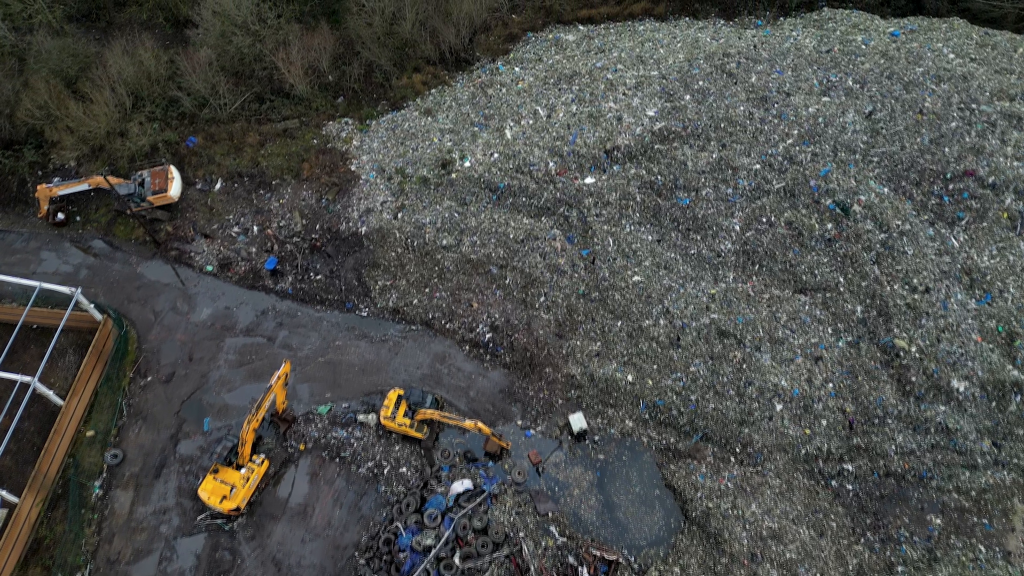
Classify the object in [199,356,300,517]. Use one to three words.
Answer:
work vehicle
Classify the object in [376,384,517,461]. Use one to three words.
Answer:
work vehicle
